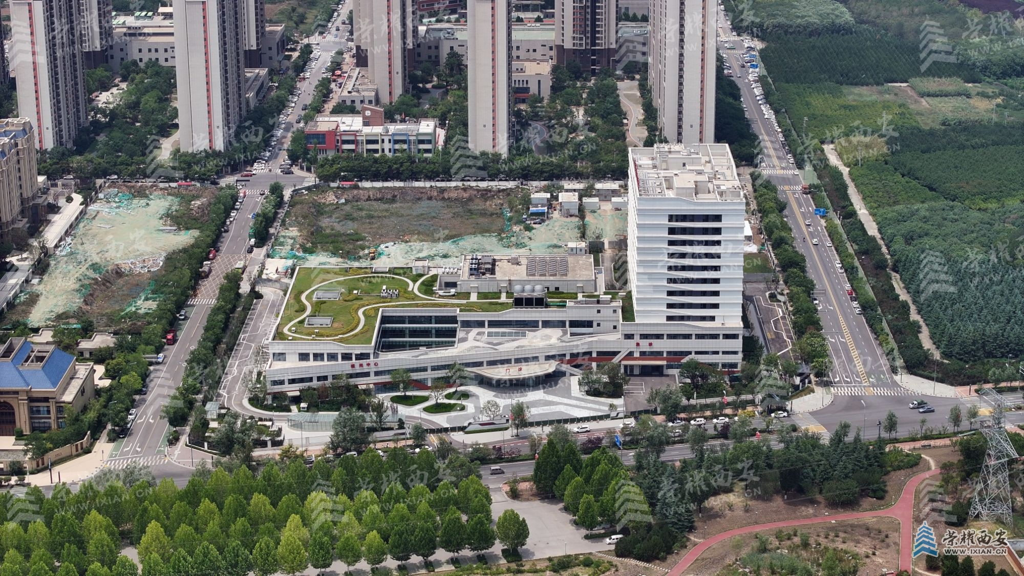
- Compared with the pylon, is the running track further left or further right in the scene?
on its left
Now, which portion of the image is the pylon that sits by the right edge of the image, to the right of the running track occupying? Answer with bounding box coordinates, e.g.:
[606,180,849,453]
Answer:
[962,382,1024,522]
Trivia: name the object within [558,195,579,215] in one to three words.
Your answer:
building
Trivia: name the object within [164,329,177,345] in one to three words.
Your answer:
vehicle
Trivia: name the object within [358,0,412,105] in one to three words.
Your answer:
building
